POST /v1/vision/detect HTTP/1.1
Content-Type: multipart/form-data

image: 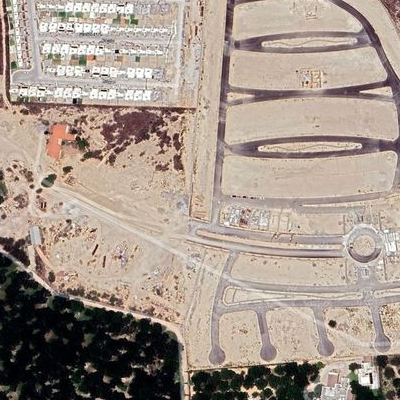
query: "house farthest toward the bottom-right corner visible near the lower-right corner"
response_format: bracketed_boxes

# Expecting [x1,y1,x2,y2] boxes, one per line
[359,358,378,389]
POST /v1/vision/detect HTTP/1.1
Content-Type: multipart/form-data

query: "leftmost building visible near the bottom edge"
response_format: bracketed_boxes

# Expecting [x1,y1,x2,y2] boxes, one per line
[320,373,353,400]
